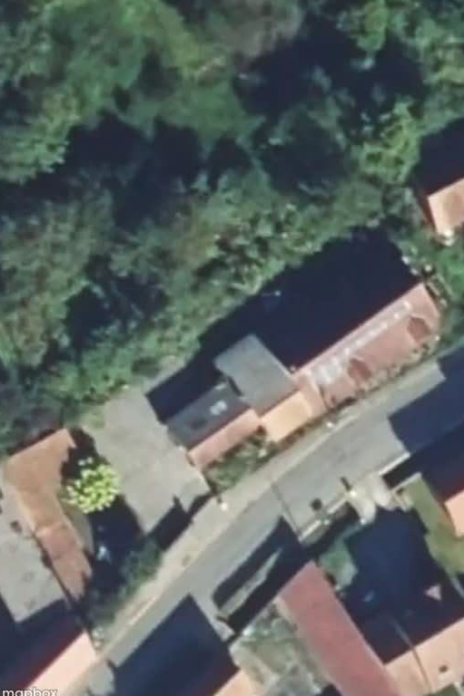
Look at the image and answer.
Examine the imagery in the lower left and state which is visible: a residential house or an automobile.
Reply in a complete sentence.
The one visible in the lower left is a residential house.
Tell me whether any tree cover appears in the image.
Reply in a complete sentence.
Yes, tree cover can be seen from above here.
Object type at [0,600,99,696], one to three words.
house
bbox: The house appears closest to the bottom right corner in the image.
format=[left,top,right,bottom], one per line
[365,579,464,696]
